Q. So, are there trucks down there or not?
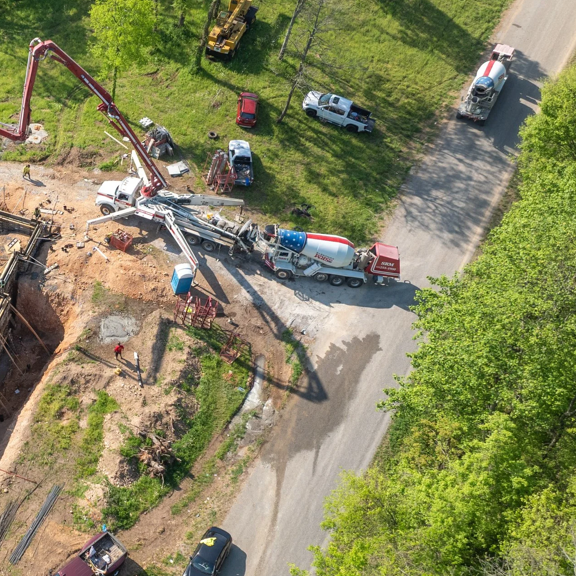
Yes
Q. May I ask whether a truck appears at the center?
Yes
